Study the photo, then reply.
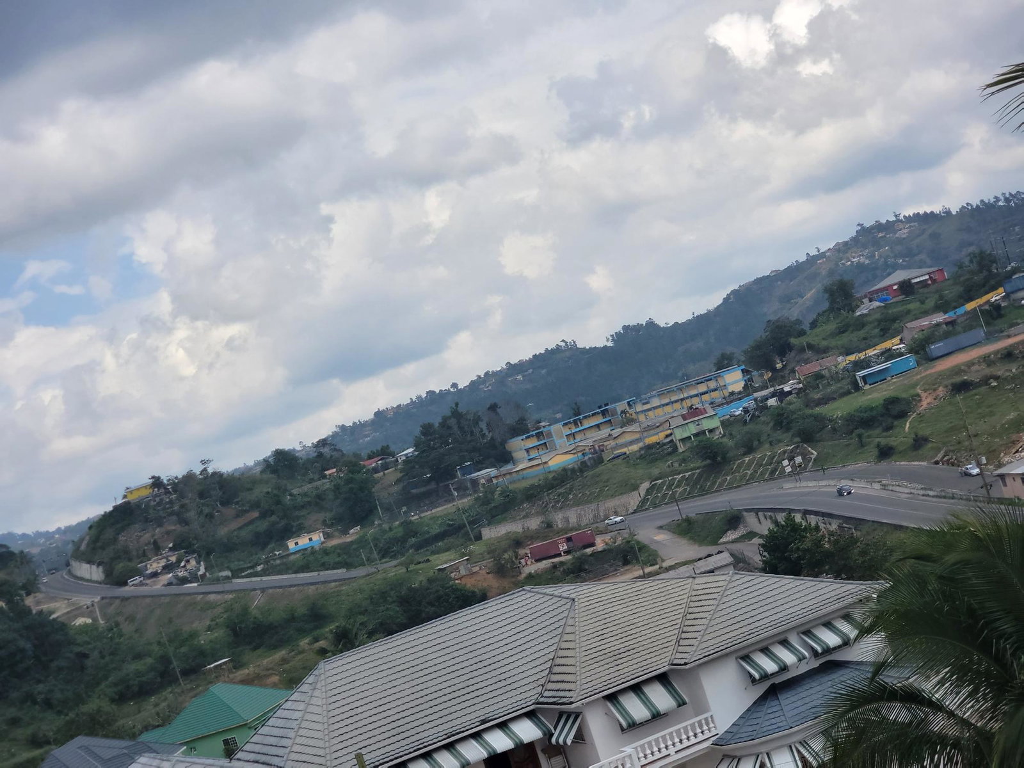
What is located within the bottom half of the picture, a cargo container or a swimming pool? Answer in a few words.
cargo container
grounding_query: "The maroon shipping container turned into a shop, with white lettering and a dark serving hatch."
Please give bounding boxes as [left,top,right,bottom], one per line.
[520,530,602,564]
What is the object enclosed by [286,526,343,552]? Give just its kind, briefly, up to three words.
building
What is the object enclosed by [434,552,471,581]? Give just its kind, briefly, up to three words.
shed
